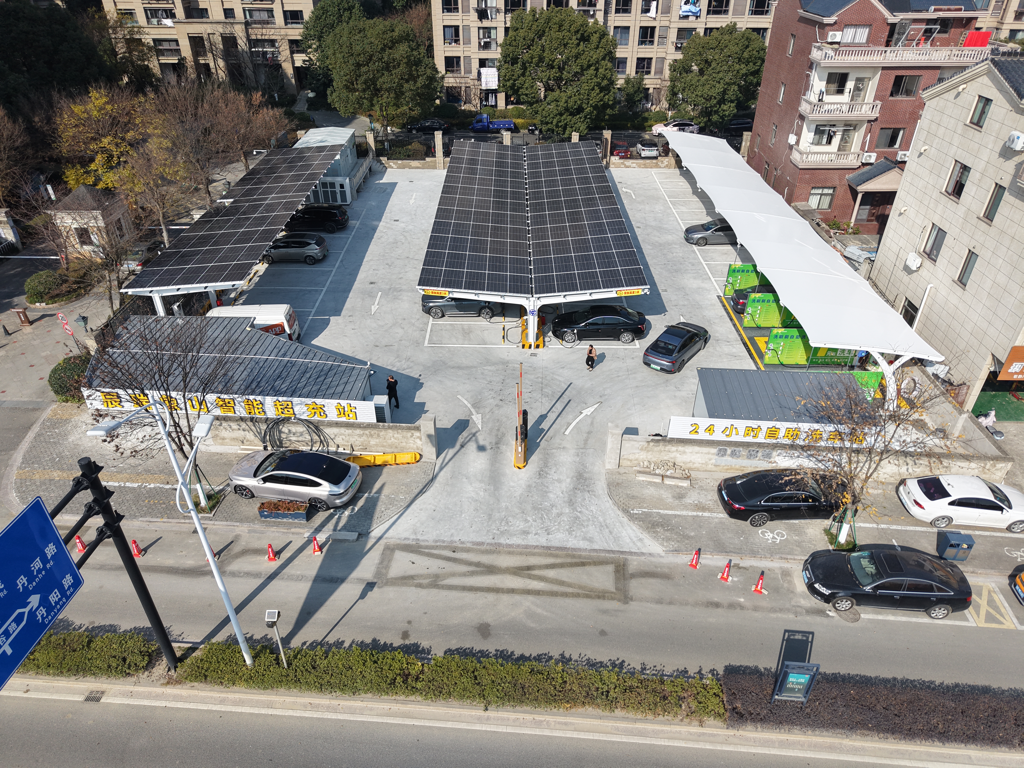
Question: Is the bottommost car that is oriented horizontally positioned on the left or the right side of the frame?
right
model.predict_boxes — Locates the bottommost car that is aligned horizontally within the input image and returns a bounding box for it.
[799,543,979,621]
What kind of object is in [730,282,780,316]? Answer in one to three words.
car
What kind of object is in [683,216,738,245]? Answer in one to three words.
car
